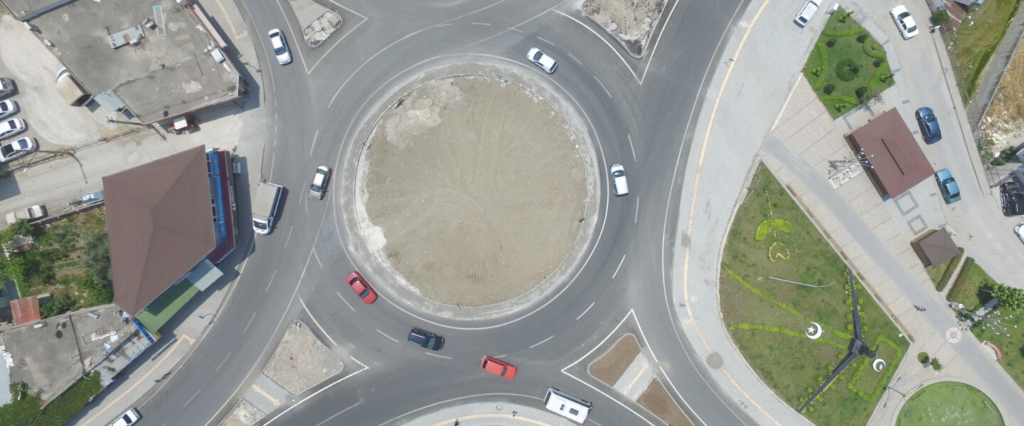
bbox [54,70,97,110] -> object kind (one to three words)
truck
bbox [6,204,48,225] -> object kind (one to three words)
car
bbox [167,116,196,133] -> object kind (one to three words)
work vehicle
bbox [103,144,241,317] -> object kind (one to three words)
building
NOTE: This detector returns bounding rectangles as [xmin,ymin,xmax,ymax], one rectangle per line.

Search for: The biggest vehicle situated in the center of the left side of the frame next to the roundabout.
[255,182,284,233]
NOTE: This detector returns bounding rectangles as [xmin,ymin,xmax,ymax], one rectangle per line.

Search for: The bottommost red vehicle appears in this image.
[479,355,518,379]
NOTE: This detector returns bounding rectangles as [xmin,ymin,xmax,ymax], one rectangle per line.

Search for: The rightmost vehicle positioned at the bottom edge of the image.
[545,388,592,424]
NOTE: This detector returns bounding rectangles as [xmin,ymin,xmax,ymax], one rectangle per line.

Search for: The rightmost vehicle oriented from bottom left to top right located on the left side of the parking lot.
[793,0,824,28]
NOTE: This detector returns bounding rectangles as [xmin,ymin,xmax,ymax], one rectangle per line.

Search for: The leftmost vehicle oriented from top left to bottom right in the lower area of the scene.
[345,271,379,305]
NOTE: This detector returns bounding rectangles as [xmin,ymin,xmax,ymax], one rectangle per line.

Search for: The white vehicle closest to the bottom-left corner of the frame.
[106,406,141,426]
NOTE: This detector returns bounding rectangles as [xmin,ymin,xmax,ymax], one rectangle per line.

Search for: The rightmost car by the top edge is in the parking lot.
[890,4,918,40]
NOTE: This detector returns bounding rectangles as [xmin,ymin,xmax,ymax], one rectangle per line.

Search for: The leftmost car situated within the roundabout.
[310,164,332,201]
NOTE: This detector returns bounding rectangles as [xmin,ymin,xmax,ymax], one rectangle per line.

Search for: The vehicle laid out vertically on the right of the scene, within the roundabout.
[610,163,629,197]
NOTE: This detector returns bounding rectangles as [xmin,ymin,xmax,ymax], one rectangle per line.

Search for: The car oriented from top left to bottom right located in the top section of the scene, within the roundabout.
[526,47,560,75]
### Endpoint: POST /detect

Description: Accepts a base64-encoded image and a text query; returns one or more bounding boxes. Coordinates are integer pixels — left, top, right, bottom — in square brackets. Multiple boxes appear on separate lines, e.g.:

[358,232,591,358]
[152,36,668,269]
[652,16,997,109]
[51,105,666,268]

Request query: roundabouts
[285,5,658,378]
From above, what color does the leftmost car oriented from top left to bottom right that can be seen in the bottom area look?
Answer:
red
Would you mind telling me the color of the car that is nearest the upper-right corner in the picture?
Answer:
white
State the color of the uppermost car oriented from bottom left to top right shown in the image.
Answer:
white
